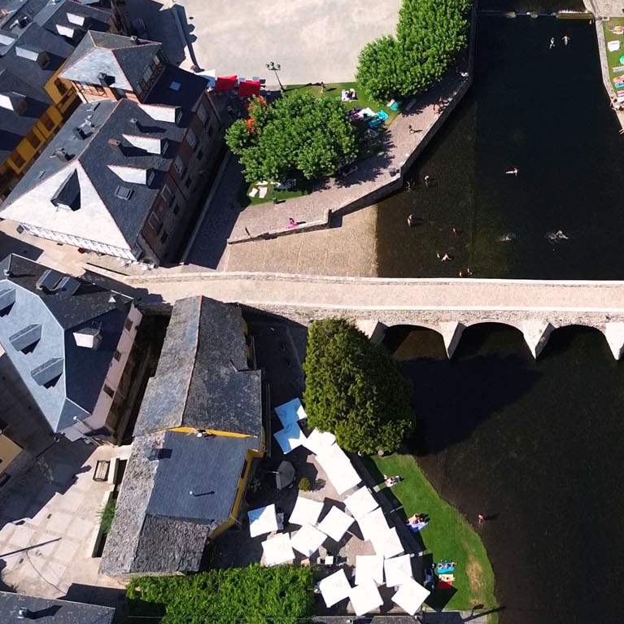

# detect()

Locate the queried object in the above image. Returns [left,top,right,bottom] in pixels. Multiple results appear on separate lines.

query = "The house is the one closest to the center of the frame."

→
[132,297,274,454]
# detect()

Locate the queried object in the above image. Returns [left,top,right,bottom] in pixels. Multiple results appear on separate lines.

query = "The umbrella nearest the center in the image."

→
[275,398,306,428]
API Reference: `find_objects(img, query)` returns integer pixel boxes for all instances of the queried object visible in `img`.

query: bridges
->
[117,270,624,363]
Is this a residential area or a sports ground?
residential area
